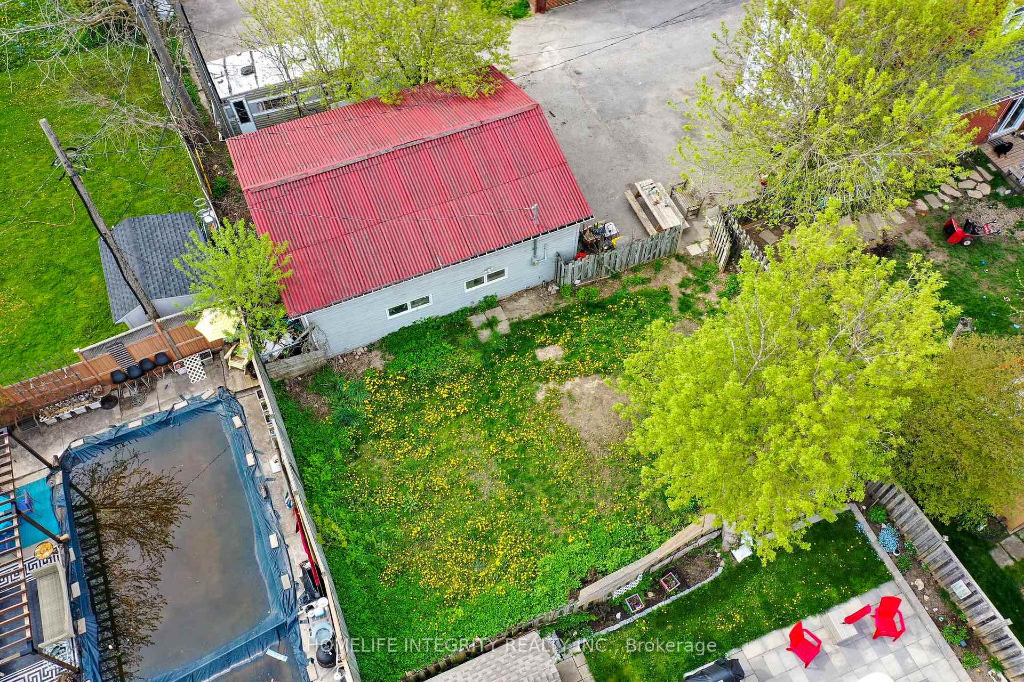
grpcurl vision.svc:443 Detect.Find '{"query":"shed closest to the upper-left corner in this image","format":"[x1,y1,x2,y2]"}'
[99,207,219,345]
